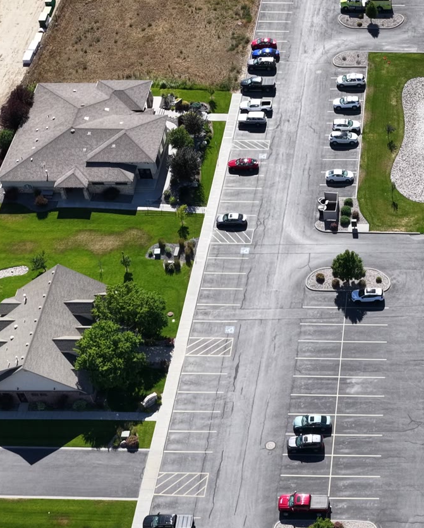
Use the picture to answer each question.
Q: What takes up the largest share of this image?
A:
paved ground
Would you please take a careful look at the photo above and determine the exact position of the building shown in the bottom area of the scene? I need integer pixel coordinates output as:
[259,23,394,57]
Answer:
[0,263,108,411]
